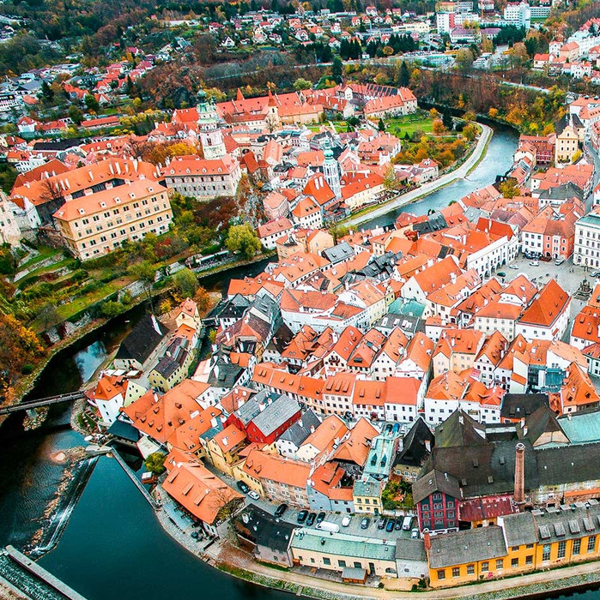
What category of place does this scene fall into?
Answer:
residential area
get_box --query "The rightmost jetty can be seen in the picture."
[85,445,116,461]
